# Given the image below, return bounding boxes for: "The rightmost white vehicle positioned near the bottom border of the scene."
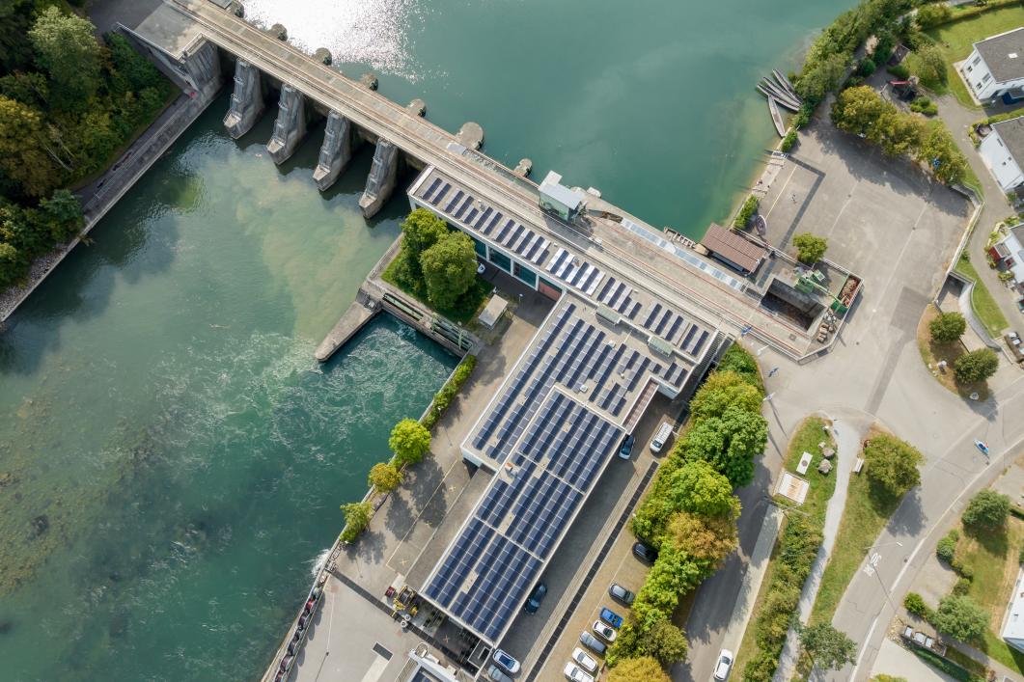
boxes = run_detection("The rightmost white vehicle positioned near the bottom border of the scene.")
[712,646,734,682]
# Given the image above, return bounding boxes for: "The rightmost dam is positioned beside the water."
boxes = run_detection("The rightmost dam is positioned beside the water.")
[164,0,850,364]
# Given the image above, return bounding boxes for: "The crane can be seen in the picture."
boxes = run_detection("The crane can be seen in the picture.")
[790,271,842,309]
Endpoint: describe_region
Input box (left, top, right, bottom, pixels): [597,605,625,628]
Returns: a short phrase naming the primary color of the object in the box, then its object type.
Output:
blue car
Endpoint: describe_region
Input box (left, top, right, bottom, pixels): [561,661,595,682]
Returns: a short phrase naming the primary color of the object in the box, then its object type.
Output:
white car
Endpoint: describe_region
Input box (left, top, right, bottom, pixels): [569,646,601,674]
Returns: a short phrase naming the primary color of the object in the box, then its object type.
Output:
white car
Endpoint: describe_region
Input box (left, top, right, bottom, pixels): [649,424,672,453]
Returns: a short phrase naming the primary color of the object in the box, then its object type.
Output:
white vehicle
